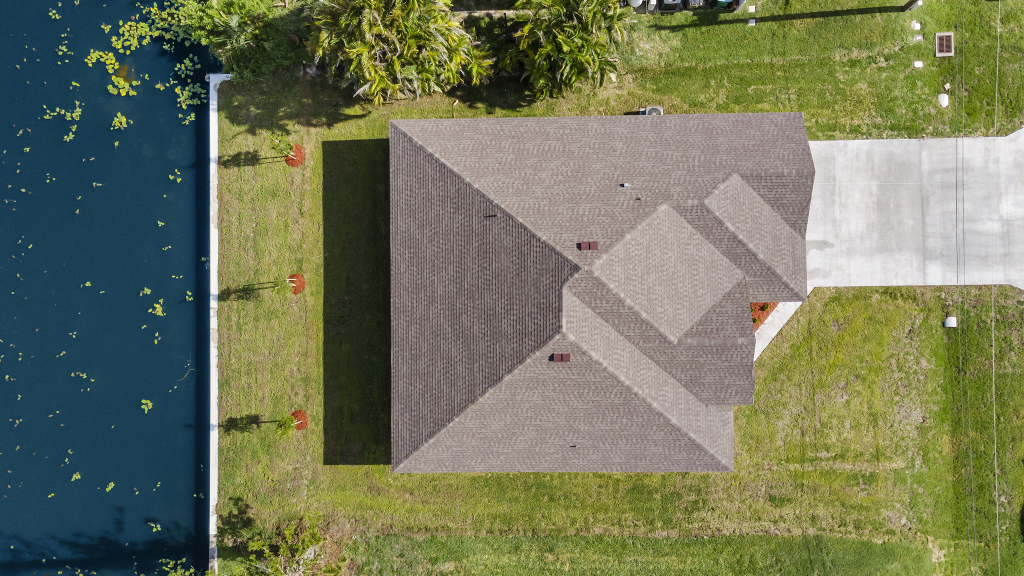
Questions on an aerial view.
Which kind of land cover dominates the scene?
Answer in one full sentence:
For the most part, this view shows grass.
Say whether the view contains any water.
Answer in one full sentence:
Yes, there is water in the image.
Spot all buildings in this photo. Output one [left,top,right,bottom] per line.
[388,112,815,475]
